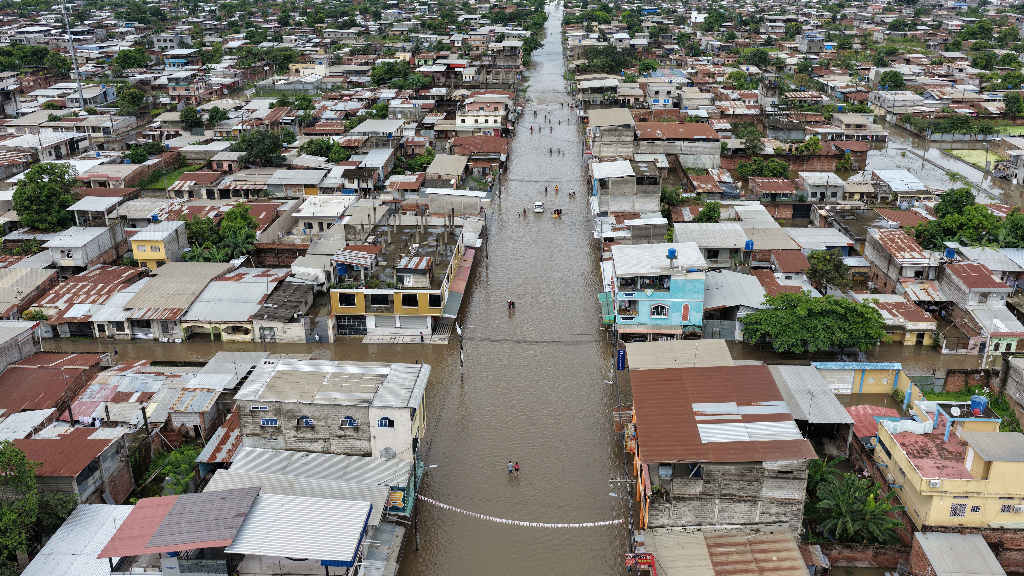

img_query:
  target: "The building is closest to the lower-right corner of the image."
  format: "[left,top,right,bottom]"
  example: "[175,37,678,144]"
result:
[911,532,1006,576]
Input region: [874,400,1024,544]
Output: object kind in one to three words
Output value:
building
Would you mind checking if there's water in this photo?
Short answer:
Yes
